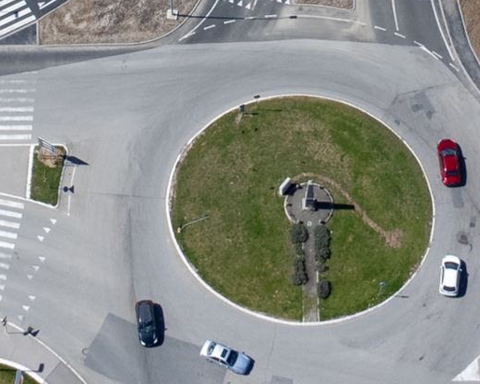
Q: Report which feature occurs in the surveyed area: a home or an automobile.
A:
automobile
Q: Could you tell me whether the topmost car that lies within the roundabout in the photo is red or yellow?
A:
red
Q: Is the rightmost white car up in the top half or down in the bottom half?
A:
bottom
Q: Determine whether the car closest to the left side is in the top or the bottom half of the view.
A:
bottom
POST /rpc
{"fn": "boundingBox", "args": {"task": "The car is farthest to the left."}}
[136,300,161,347]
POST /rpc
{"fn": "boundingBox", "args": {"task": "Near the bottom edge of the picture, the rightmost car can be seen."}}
[198,339,252,376]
